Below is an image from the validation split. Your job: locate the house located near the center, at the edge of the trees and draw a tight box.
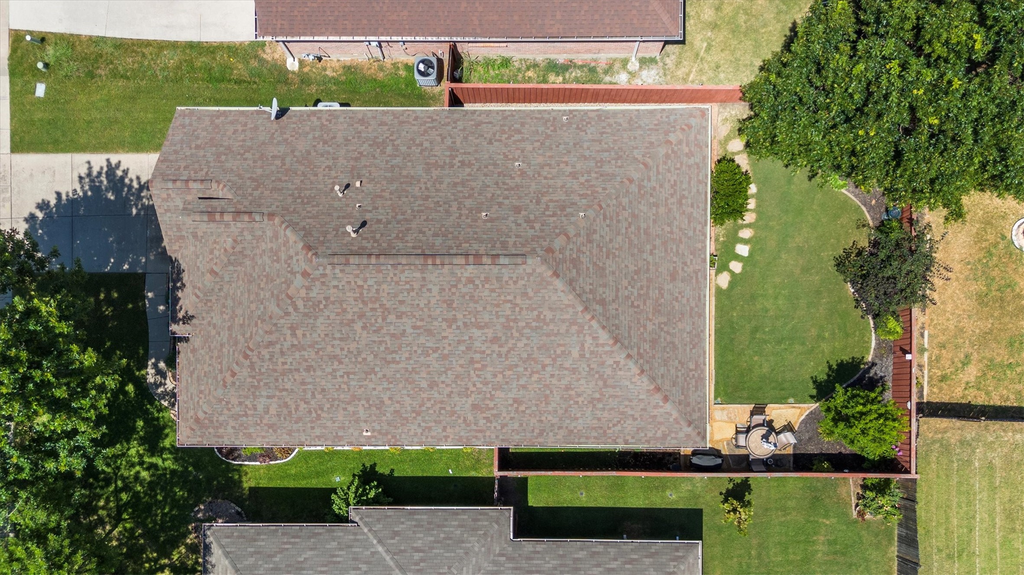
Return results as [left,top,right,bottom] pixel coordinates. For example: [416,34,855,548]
[148,107,711,446]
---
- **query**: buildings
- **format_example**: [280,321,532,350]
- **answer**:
[203,507,702,575]
[251,0,683,63]
[148,107,711,446]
